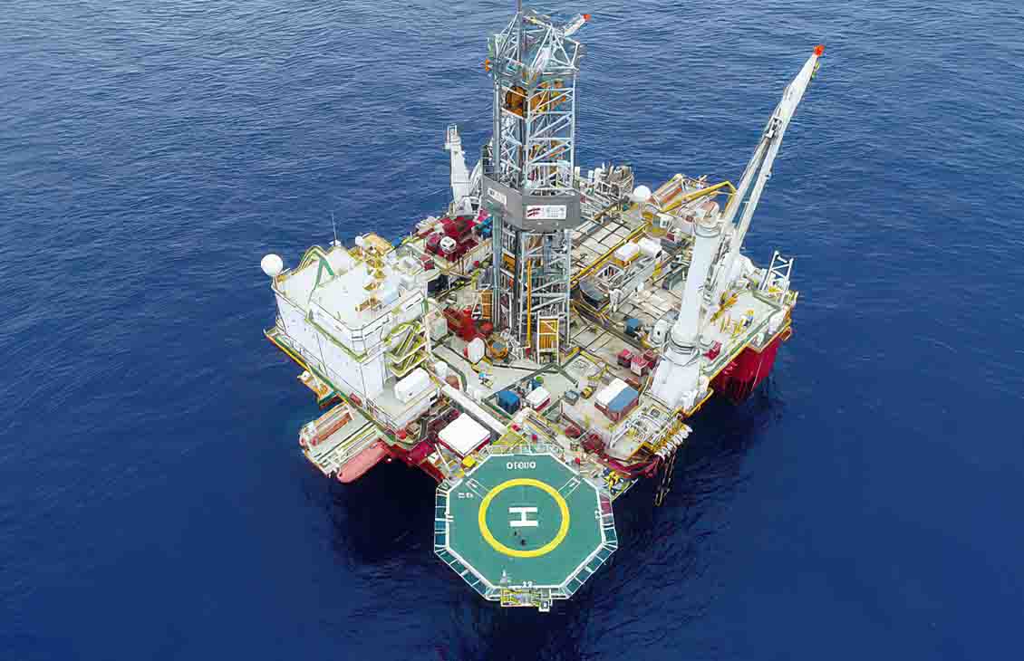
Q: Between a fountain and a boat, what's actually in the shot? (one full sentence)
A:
Visible in the photo is a boat.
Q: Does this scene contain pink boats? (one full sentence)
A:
Yes, looking at the shot, I can spot a pink boat.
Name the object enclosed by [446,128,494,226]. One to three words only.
crane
